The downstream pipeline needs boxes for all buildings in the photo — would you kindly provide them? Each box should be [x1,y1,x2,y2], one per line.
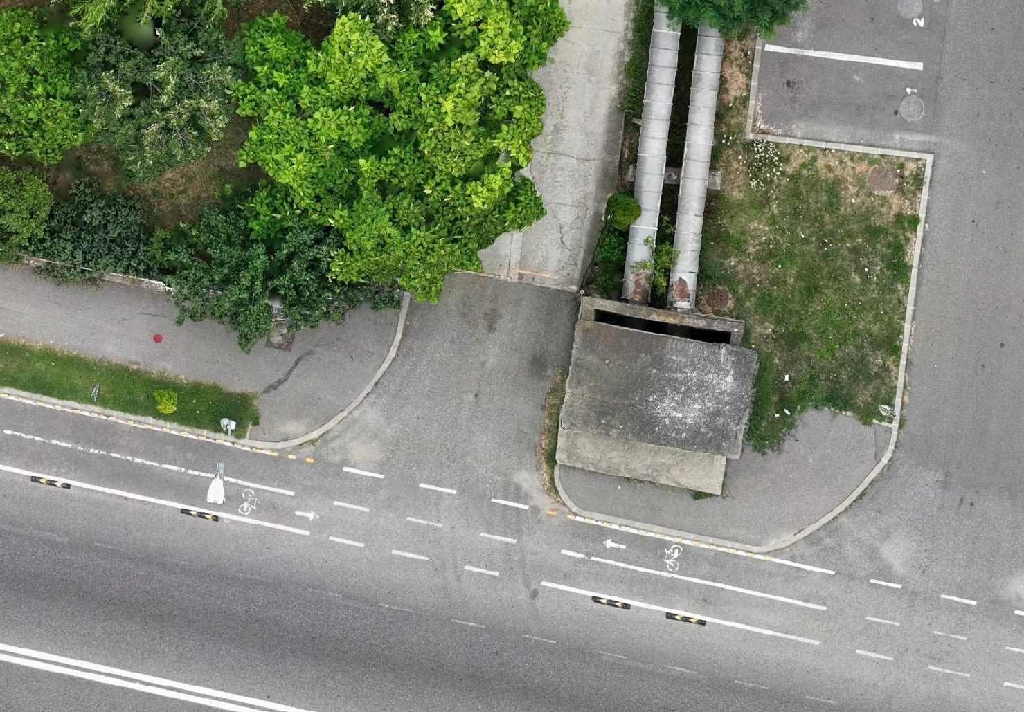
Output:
[556,296,756,495]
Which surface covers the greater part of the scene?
paved ground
